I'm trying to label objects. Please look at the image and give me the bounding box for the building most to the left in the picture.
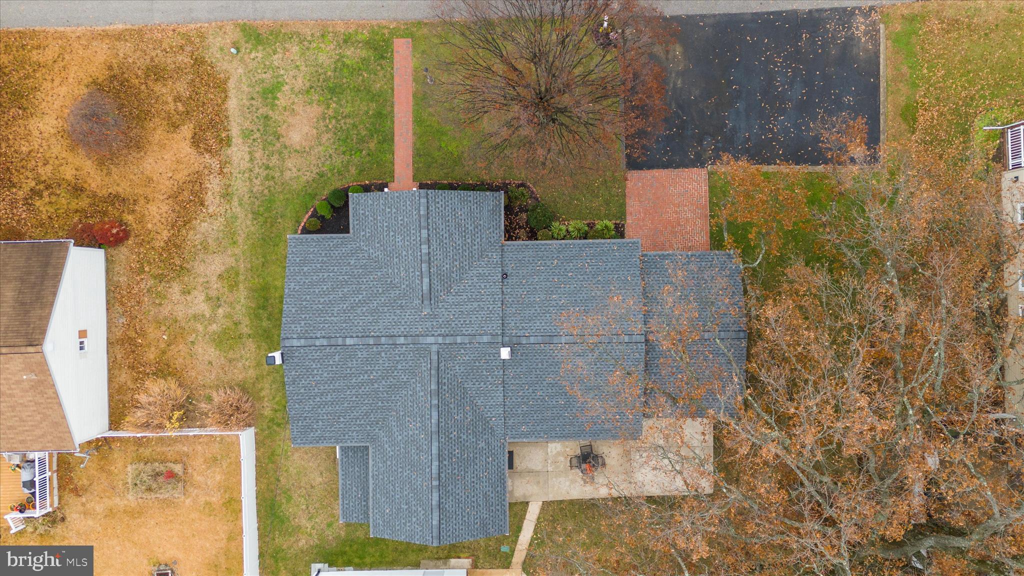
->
[0,238,109,456]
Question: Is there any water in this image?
No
